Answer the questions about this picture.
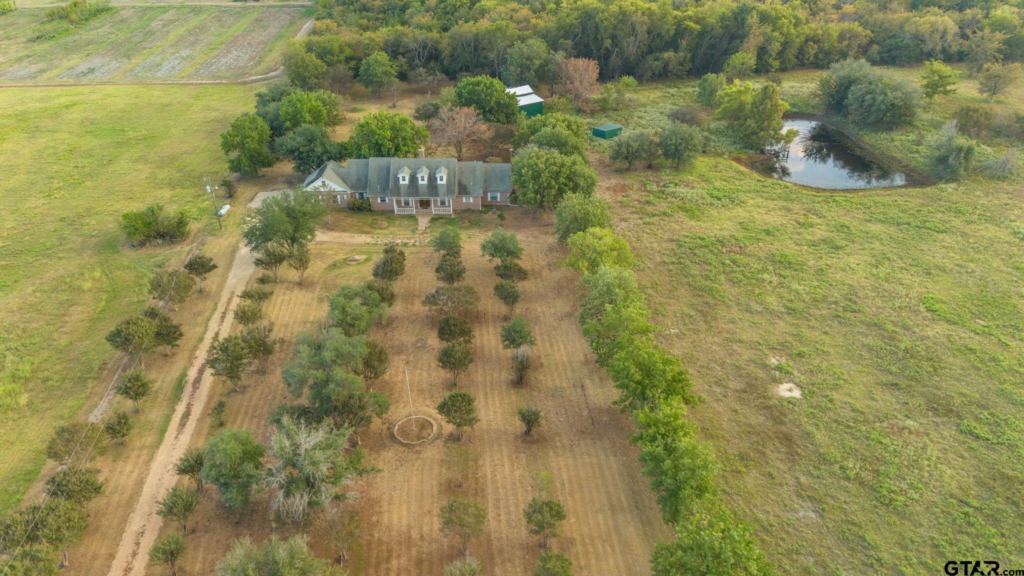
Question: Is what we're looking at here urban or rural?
rural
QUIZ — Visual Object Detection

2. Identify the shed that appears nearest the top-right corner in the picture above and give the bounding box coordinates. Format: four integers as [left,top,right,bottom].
[593,121,622,139]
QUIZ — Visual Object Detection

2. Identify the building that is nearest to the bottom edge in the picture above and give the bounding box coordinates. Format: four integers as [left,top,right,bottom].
[298,148,527,215]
